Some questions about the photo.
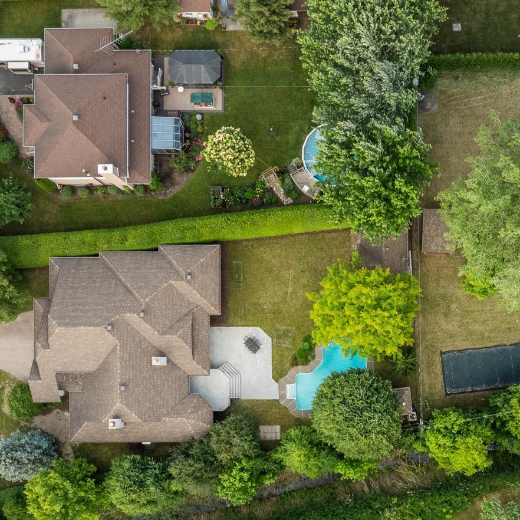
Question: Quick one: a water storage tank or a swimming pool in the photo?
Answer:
swimming pool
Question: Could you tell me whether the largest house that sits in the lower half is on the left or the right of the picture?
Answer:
left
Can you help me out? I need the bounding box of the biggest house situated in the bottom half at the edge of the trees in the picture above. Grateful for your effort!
[28,245,223,445]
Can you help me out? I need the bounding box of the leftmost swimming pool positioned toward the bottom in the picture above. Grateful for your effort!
[279,337,374,418]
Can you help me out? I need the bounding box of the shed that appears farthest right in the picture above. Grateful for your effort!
[422,208,454,254]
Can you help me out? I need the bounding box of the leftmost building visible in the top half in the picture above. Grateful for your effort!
[22,28,156,190]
